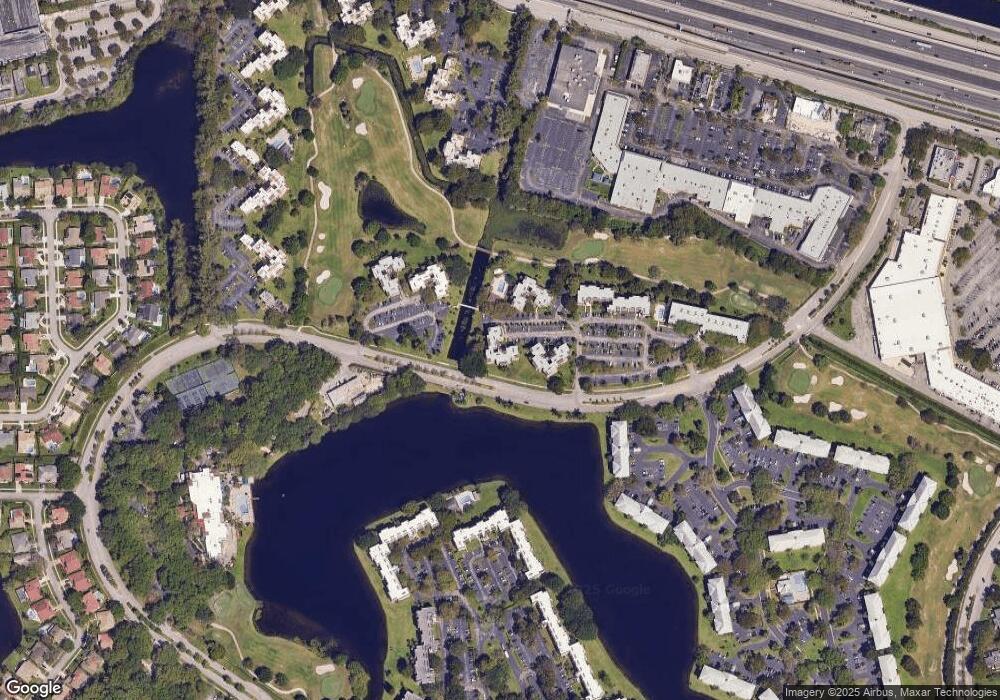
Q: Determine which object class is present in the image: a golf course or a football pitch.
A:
golf course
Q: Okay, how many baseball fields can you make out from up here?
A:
0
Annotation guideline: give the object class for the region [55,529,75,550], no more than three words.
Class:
house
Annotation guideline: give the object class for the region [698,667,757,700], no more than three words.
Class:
building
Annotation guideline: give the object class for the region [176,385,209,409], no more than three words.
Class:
tennis court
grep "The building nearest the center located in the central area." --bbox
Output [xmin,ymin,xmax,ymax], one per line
[485,325,519,367]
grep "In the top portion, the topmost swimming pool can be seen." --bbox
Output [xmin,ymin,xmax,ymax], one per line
[407,56,437,80]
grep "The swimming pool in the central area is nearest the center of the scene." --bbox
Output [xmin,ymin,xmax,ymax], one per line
[488,268,508,302]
